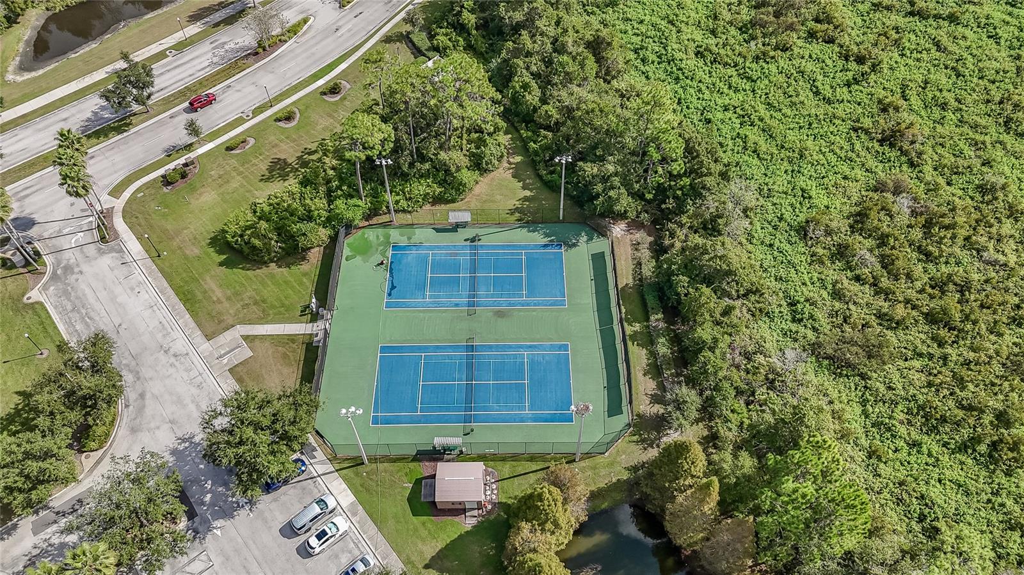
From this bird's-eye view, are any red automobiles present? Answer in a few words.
Yes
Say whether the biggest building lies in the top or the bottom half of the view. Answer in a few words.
bottom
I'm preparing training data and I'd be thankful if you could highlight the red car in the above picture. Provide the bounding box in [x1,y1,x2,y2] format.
[187,93,218,112]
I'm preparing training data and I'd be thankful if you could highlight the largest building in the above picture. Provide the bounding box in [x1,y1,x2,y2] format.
[426,462,485,529]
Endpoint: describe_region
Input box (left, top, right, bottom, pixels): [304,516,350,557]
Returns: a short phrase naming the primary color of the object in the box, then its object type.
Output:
white car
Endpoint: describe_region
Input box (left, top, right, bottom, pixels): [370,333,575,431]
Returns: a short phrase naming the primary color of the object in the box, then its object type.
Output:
blue tennis court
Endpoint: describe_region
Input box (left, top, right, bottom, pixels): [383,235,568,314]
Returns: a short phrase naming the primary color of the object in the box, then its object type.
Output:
blue tennis court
